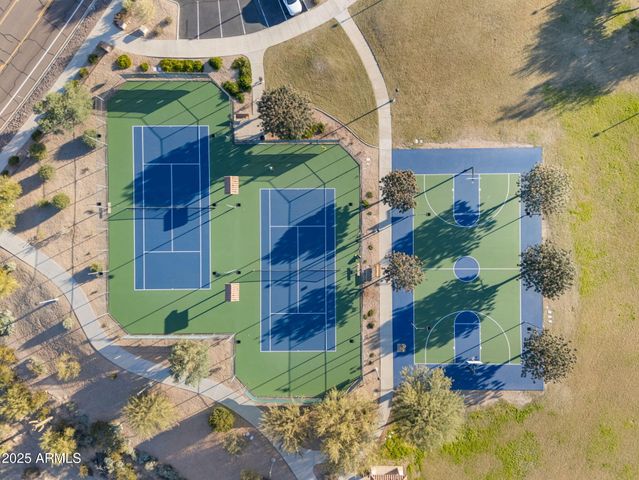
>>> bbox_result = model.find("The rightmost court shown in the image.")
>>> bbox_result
[393,148,544,392]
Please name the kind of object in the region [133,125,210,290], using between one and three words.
tennis court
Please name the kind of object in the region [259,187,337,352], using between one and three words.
tennis court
